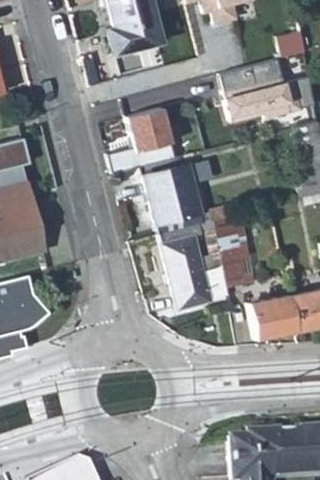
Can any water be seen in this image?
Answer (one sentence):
No, the scene doesn't show any water.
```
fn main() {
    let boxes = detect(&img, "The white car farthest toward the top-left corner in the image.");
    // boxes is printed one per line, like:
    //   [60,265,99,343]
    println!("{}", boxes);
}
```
[52,14,69,40]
